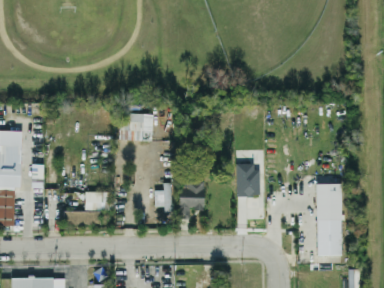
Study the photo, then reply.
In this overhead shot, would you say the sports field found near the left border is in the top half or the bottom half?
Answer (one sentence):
The sports field found near the left border is in the top half of the image.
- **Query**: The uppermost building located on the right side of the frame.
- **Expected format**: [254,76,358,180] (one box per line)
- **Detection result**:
[236,162,260,197]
